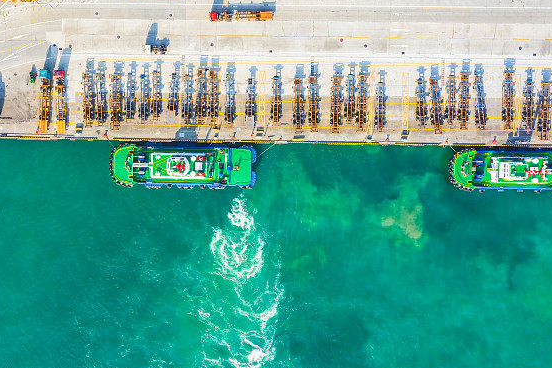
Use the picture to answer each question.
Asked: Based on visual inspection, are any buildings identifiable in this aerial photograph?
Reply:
No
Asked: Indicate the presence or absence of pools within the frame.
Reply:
No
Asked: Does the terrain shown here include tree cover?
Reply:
No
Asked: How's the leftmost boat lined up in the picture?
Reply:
horizontally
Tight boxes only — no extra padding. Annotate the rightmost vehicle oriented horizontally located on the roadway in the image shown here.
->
[210,9,275,22]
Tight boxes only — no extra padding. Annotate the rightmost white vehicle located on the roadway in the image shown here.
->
[144,42,167,55]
